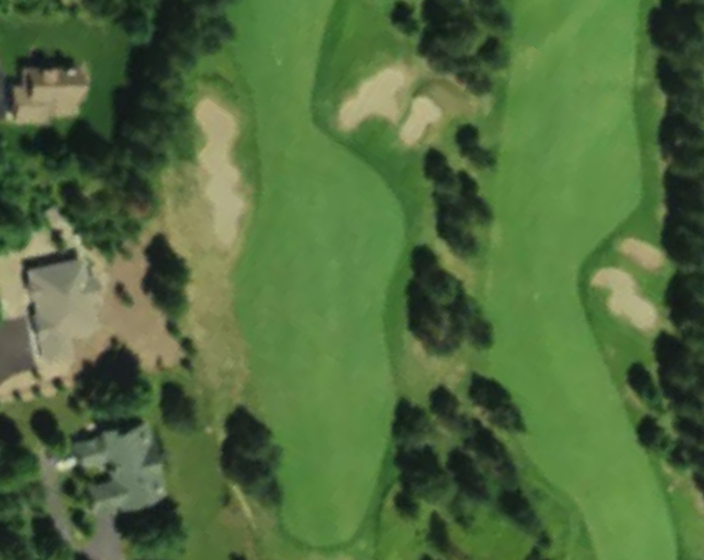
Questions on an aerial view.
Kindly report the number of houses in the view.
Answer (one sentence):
Looking from above, you can make out 3 houses.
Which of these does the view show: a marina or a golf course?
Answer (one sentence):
What you see here is a golf course.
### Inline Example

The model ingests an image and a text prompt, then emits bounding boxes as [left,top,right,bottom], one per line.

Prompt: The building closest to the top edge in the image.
[13,68,88,123]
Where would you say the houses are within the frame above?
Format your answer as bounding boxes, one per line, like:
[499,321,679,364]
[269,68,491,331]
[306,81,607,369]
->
[13,68,88,123]
[71,421,168,516]
[25,262,105,364]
